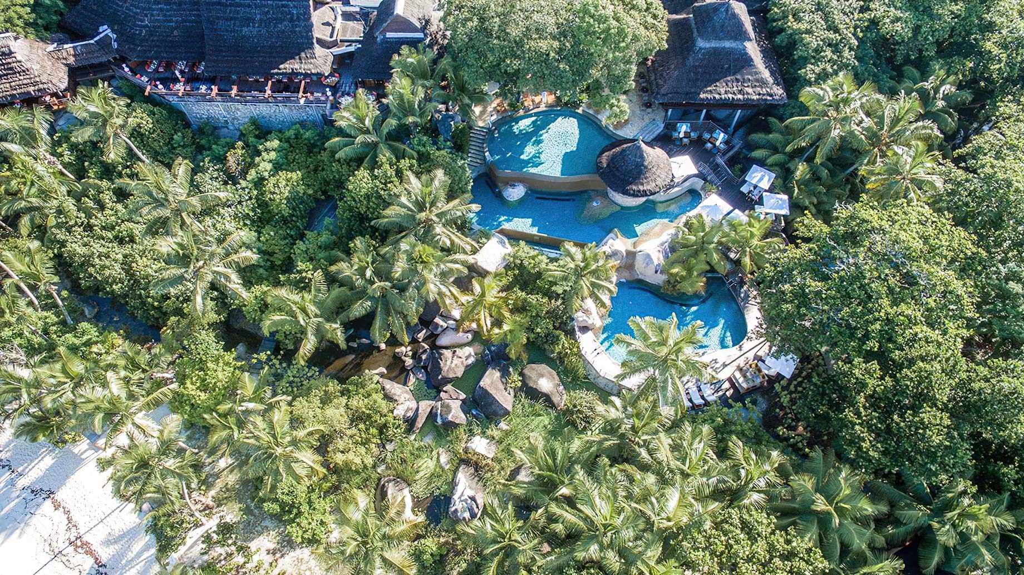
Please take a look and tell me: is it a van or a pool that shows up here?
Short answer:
pool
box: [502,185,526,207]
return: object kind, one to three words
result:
fountain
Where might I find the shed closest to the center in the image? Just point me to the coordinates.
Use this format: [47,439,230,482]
[596,136,674,214]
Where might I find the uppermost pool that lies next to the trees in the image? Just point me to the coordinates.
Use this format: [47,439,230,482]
[483,103,622,194]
